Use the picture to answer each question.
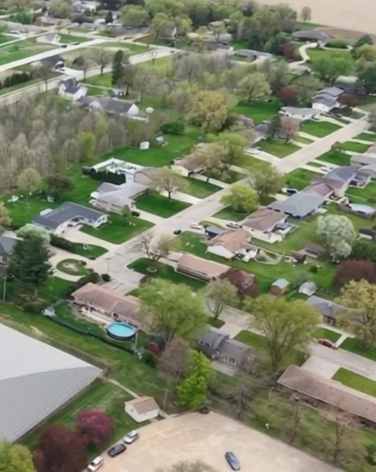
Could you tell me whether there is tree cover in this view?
Yes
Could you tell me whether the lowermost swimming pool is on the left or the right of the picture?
left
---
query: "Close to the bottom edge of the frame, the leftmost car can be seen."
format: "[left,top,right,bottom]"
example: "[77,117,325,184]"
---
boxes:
[86,453,104,469]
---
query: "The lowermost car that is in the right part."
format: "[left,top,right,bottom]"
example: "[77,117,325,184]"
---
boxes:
[224,452,239,470]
